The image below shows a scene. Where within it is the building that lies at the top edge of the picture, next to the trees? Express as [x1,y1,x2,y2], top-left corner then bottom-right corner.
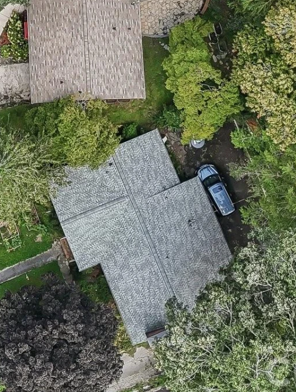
[27,0,146,105]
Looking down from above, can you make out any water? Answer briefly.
No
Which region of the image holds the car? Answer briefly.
right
